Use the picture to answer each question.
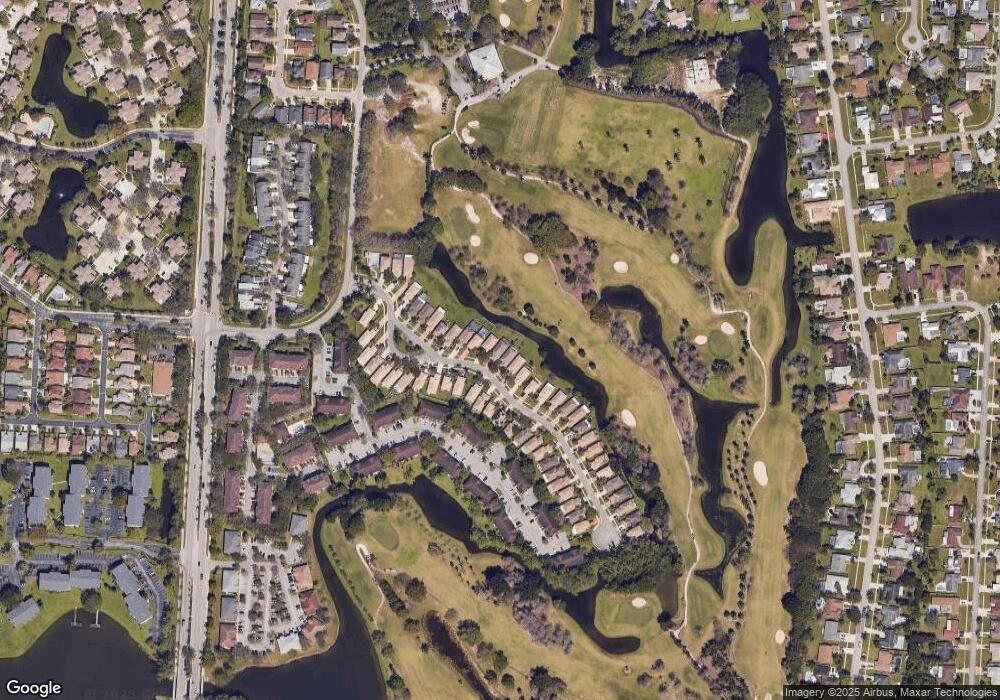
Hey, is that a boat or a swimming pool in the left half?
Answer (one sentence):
The one visible in the left half is a swimming pool.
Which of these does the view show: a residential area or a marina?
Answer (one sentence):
It's a residential area.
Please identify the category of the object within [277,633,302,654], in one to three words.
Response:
building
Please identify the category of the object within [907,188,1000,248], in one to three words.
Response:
pond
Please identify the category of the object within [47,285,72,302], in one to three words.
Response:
swimming pool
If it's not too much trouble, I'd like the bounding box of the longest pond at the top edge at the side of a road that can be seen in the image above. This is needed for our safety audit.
[32,33,109,139]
